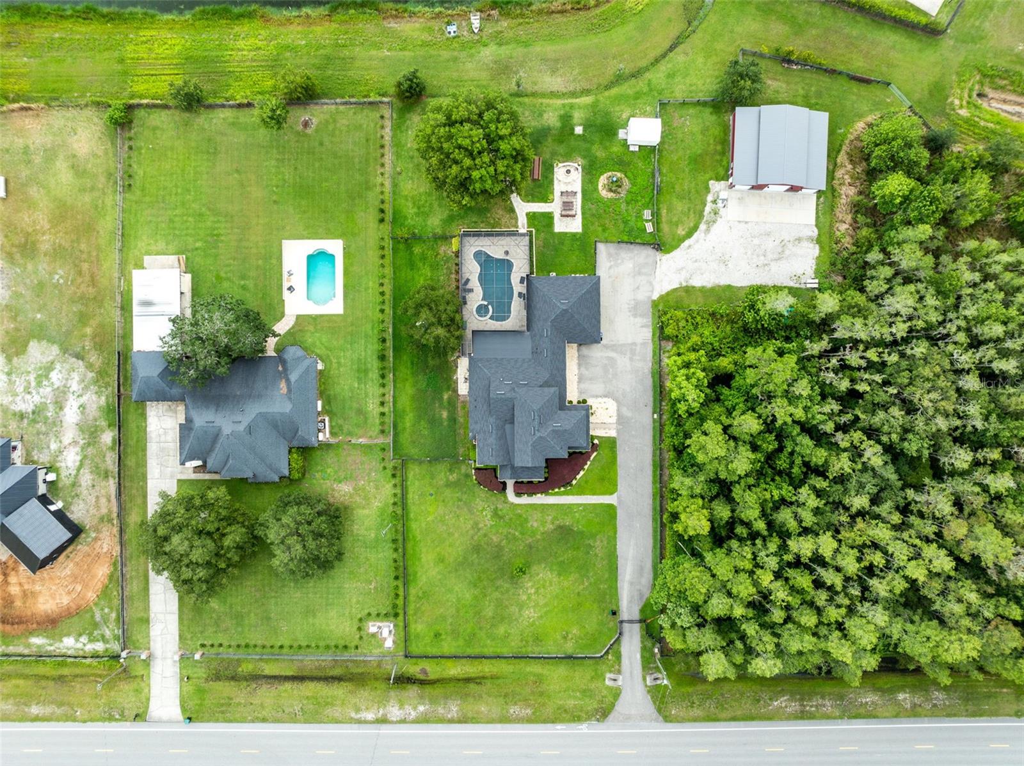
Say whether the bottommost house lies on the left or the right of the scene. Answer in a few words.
left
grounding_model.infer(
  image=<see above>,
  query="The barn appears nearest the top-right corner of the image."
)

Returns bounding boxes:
[725,104,829,194]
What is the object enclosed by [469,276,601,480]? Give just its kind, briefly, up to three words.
house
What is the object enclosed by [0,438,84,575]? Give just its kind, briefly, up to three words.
house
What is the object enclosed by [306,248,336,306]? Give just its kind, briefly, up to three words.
swimming pool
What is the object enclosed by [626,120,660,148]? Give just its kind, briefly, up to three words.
shed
